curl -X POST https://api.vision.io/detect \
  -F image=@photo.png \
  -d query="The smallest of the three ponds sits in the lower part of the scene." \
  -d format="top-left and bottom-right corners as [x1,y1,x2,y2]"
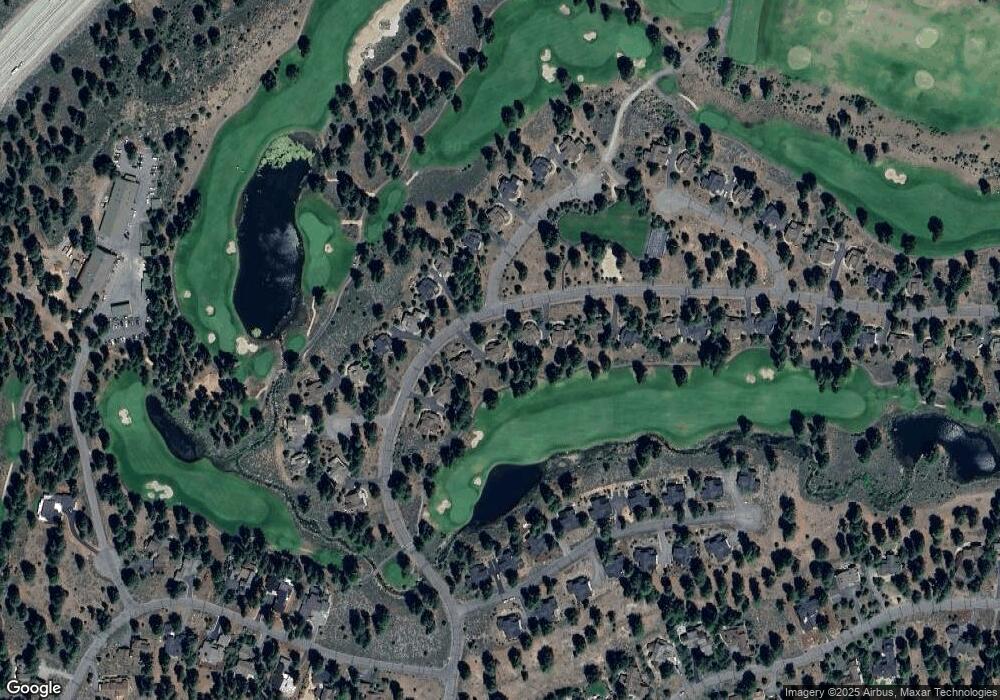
[146,393,205,462]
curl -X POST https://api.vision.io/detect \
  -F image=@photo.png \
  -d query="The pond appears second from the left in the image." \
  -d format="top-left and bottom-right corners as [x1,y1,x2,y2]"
[470,462,545,526]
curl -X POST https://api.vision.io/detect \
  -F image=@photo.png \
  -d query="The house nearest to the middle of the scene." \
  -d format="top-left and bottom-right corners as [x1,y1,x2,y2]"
[483,338,511,362]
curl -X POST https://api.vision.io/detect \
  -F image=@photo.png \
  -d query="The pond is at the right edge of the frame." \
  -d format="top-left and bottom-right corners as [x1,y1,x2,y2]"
[892,413,1000,483]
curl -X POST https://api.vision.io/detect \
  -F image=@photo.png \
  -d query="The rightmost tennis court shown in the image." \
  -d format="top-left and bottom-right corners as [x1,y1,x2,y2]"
[647,227,668,259]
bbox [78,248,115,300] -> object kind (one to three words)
shed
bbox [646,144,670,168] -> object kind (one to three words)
house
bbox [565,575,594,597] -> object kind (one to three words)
house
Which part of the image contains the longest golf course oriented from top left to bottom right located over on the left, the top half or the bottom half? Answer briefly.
bottom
